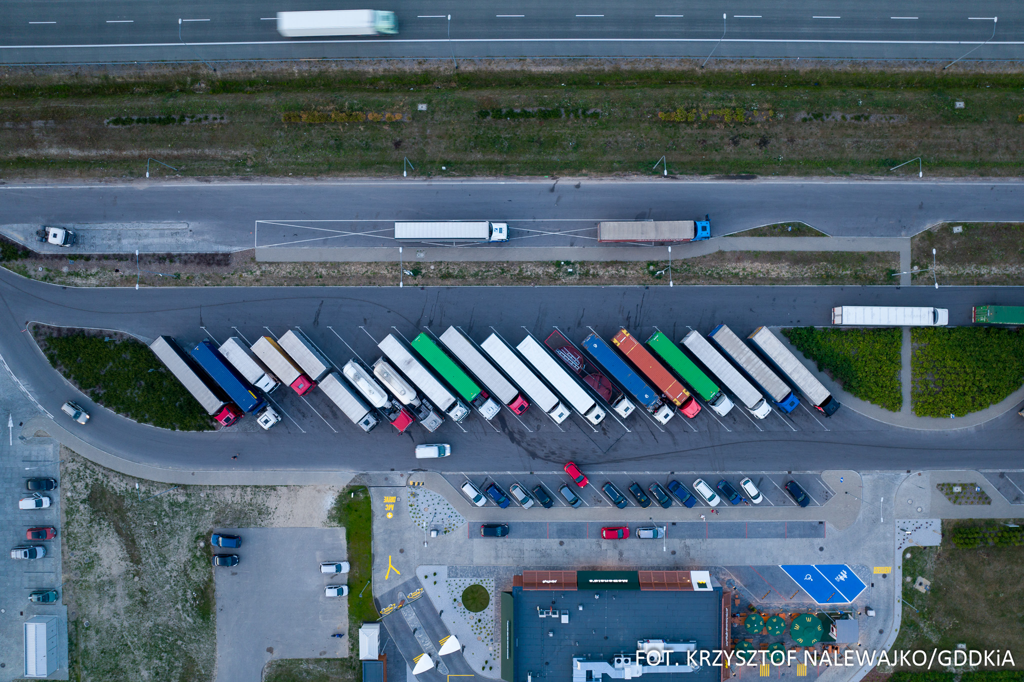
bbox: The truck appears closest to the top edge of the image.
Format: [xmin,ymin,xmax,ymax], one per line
[277,9,399,39]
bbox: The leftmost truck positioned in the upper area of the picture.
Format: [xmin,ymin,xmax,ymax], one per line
[37,225,80,247]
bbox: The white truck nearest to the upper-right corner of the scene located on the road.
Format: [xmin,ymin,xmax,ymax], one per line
[832,305,945,326]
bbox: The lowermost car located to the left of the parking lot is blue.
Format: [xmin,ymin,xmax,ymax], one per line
[28,588,60,604]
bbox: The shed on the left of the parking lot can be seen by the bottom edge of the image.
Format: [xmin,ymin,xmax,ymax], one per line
[24,616,58,677]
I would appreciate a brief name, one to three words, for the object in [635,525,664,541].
car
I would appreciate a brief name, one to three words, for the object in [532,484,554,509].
car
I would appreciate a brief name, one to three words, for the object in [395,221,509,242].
truck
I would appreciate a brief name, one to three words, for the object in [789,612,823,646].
umbrella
